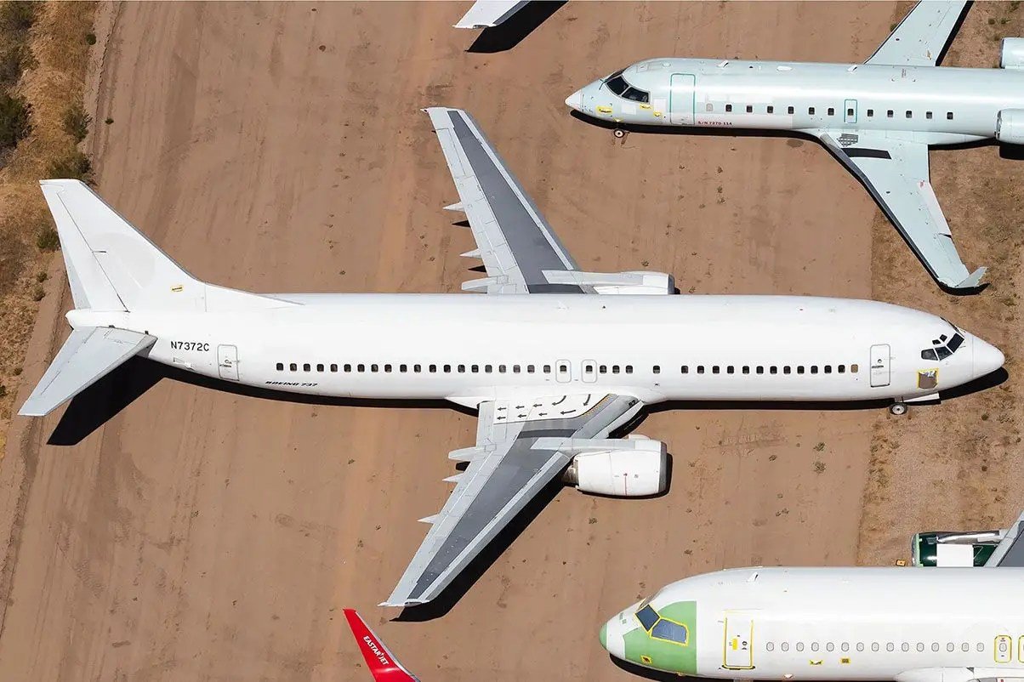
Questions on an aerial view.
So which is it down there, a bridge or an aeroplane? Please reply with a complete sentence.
I can see an aeroplane in this picture.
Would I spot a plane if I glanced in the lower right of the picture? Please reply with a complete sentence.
Yes, the scene does show a plane in the lower right of the picture.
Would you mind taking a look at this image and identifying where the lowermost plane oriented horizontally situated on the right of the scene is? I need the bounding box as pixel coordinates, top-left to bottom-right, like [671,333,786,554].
[599,515,1024,682]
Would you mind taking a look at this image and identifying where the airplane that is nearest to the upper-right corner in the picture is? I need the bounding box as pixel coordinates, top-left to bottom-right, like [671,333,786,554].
[565,0,1024,284]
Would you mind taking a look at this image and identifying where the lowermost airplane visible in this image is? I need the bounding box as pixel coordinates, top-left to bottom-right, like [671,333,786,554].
[344,608,418,682]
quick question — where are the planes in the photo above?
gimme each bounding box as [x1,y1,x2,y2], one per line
[565,0,1024,284]
[19,108,1005,605]
[453,0,526,28]
[344,608,418,682]
[599,515,1024,682]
